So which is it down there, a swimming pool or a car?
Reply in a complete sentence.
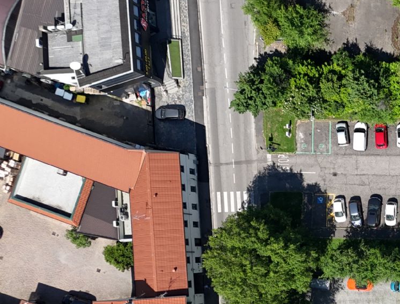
This aerial view contains a car.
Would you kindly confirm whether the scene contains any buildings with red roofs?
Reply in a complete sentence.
Yes, the frame does contain a building with a red roof.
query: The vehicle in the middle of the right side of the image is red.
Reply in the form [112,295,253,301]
[374,124,389,149]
